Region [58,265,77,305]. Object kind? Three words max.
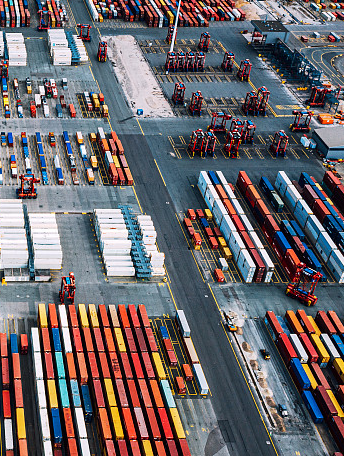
work vehicle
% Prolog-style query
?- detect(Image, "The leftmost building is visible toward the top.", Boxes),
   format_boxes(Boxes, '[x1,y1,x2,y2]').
[250,21,289,42]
